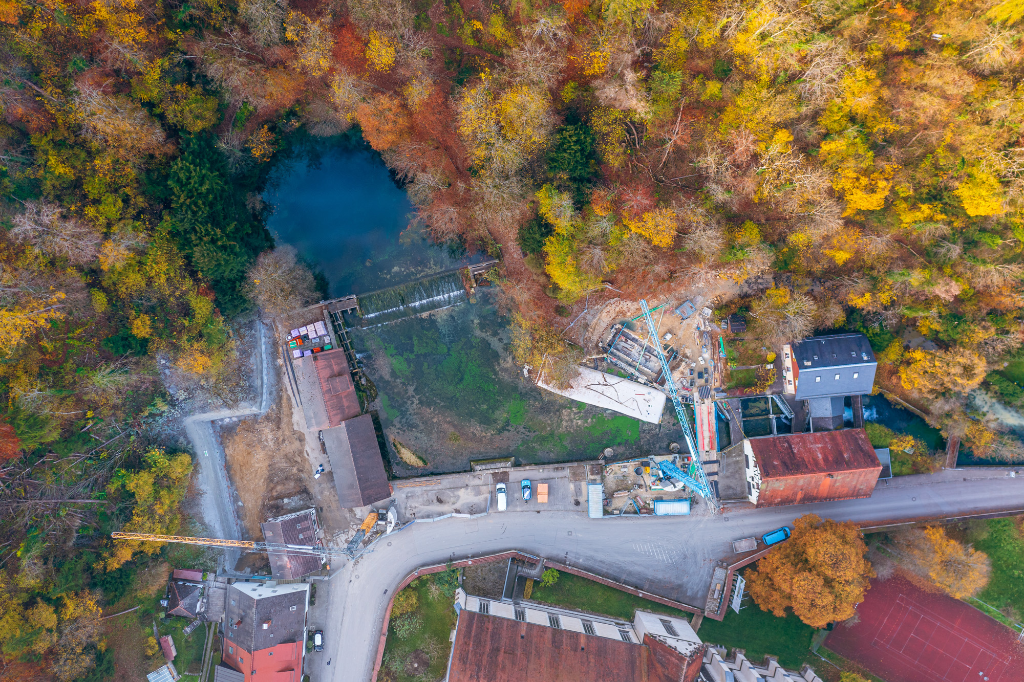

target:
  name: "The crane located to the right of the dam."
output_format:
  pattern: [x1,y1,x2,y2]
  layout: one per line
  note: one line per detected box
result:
[638,300,716,534]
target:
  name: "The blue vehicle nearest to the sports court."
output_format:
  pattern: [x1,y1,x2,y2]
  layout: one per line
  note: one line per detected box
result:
[761,528,791,547]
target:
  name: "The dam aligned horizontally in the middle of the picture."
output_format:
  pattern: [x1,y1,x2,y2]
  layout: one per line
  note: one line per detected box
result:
[355,266,469,332]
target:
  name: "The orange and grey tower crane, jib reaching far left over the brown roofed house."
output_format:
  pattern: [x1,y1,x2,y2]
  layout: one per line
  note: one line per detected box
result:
[111,487,399,569]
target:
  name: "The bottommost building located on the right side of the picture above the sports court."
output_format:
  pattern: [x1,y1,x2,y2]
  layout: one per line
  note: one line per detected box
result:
[744,428,883,508]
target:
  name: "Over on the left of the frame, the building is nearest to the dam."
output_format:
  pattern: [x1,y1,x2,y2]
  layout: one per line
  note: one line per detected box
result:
[293,347,363,430]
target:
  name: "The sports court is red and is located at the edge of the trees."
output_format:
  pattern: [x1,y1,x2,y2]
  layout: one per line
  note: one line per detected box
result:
[824,569,1024,682]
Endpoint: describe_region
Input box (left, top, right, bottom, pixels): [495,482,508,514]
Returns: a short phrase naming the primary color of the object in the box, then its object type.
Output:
white vehicle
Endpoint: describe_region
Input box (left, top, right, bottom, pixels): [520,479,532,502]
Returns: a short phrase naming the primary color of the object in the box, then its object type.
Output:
blue vehicle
